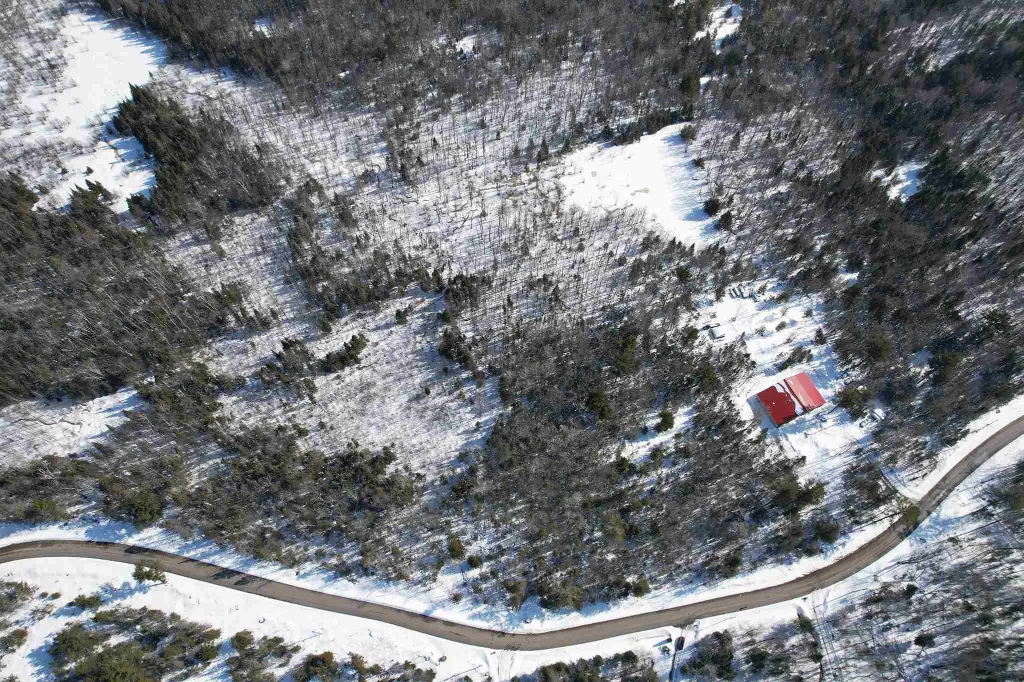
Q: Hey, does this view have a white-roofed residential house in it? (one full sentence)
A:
No, no white-roofed residential house is visible in the view.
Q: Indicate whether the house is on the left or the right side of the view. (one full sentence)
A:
It is on the right.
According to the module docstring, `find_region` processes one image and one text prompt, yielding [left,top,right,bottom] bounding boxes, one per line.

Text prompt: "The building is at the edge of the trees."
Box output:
[756,372,825,426]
